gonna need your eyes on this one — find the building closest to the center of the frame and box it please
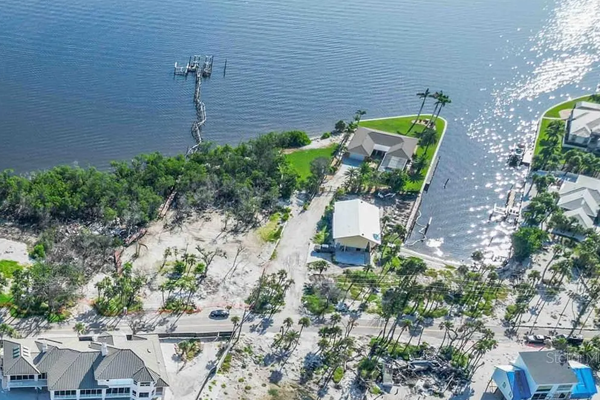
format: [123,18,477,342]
[327,199,381,257]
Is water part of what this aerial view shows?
Yes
